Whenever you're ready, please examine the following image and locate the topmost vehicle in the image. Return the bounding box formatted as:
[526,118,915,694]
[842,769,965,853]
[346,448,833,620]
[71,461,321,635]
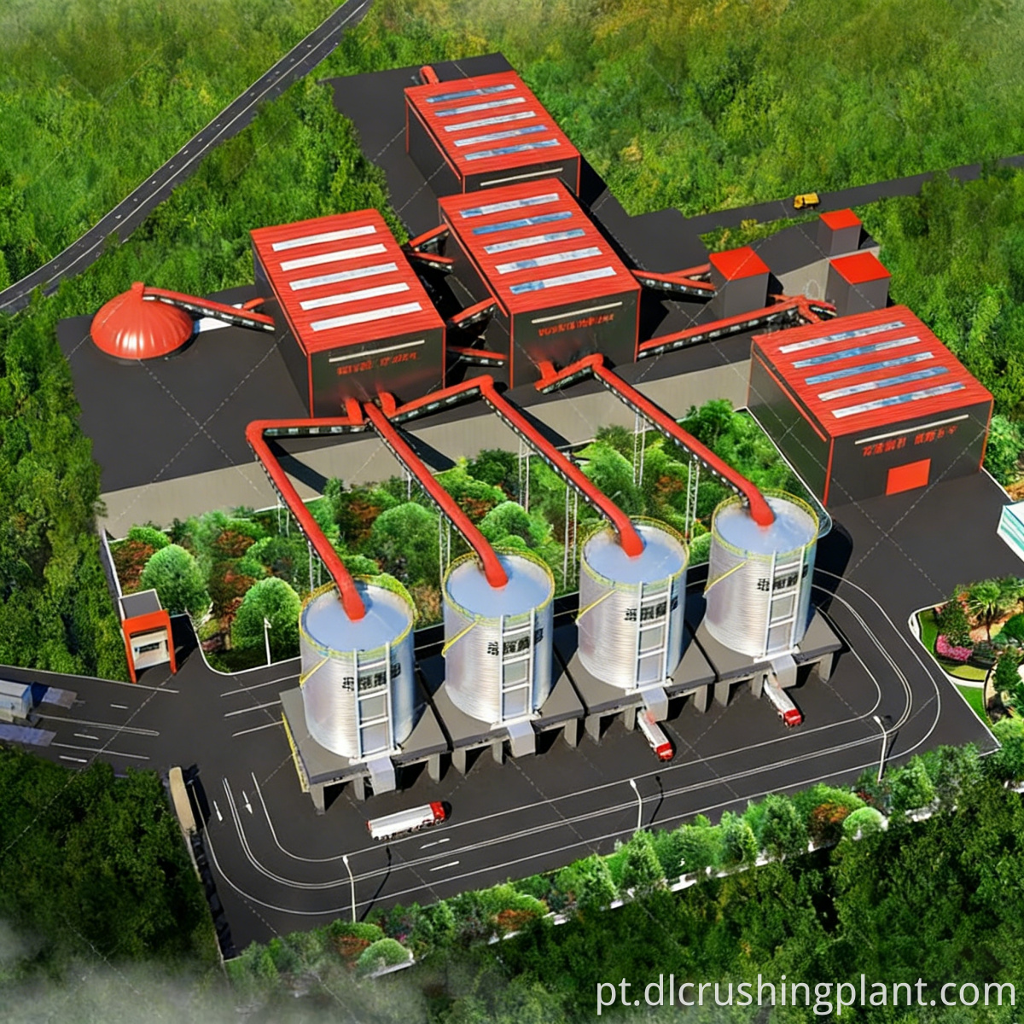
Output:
[793,188,820,205]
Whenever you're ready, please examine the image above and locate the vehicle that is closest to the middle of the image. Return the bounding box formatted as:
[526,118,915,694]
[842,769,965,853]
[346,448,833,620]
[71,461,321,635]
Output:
[636,705,677,758]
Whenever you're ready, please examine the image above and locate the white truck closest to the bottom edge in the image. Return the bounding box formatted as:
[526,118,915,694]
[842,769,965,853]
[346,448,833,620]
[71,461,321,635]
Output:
[367,792,449,839]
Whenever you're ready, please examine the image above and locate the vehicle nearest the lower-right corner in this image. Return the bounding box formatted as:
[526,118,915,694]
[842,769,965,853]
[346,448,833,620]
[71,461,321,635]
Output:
[764,672,807,724]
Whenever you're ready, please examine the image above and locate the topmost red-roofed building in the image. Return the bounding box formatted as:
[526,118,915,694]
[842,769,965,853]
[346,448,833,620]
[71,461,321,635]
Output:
[403,71,581,204]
